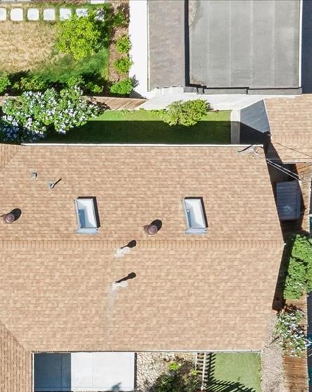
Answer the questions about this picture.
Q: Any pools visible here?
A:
No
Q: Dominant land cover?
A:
buildings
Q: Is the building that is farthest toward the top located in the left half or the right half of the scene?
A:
right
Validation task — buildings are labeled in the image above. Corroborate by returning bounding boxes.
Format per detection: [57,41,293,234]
[133,0,303,107]
[0,143,282,392]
